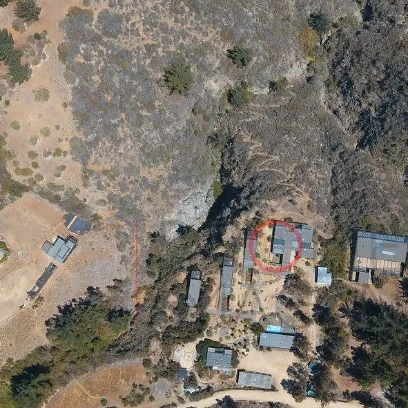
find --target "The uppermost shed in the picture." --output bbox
[65,213,94,234]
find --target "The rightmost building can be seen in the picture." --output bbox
[352,231,408,284]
